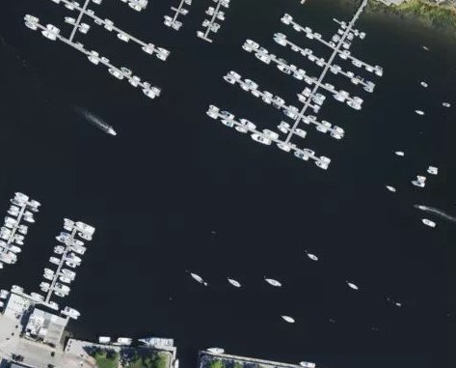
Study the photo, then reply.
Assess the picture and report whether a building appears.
Yes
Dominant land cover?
water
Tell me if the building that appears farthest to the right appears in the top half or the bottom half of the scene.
bottom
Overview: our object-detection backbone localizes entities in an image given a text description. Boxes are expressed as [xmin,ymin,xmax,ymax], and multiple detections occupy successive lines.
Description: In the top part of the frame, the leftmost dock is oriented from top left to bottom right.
[33,0,165,96]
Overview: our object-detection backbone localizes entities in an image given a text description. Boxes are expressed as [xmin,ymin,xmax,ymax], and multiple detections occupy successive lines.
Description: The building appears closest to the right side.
[43,316,69,348]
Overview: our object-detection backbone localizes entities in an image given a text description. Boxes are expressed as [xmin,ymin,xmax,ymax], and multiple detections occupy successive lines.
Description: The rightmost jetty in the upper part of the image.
[213,0,376,162]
